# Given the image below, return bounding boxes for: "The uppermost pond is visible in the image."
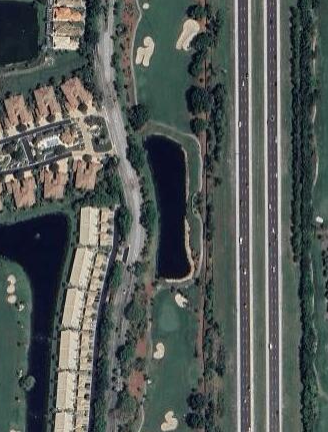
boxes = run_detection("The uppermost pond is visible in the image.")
[0,0,38,66]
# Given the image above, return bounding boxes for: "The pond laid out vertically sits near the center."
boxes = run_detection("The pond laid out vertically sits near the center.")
[145,133,190,280]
